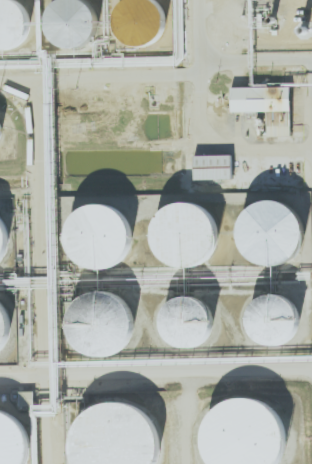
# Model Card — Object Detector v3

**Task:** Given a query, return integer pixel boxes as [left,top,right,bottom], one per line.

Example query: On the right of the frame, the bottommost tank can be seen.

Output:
[198,398,288,464]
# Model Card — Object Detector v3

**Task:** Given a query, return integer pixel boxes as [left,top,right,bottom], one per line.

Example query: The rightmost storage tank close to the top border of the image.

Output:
[110,0,168,50]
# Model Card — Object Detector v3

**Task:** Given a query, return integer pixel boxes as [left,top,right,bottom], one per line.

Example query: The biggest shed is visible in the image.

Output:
[230,86,290,112]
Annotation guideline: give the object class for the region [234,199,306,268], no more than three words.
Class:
storage tank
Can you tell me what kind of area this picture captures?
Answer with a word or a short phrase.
industrial area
